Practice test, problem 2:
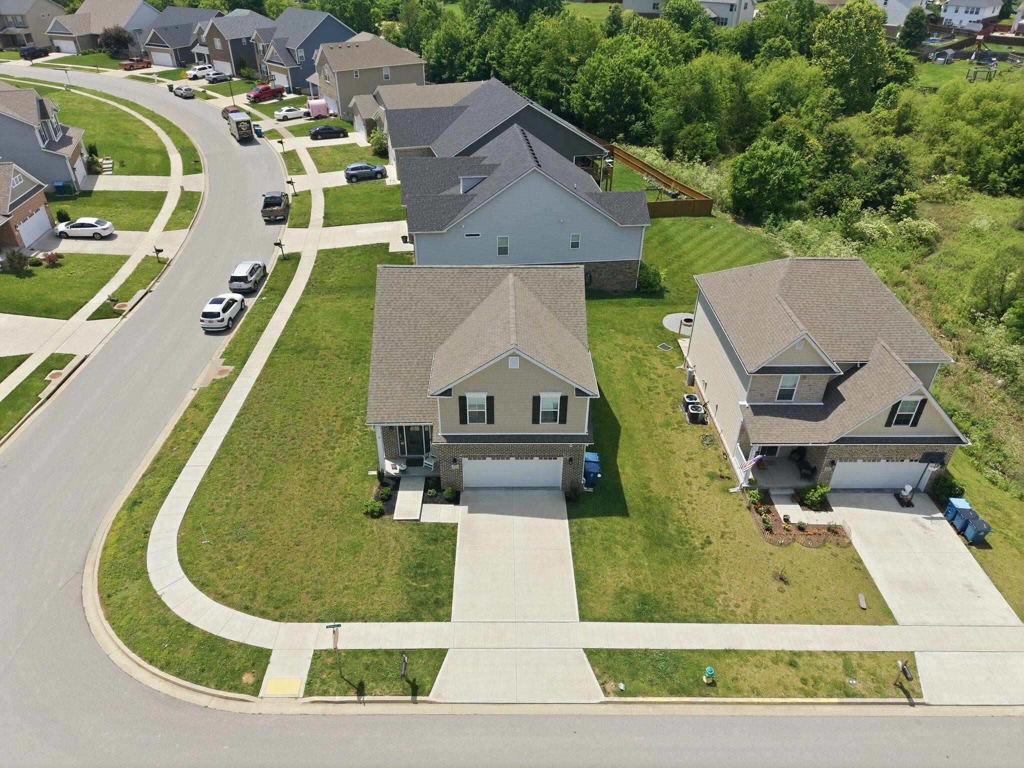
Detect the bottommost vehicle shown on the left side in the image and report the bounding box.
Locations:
[198,293,246,330]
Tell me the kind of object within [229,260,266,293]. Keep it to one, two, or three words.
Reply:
car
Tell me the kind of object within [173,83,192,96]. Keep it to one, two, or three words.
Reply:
vehicle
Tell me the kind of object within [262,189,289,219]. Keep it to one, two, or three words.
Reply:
truck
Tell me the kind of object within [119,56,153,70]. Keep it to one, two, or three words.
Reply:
vehicle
